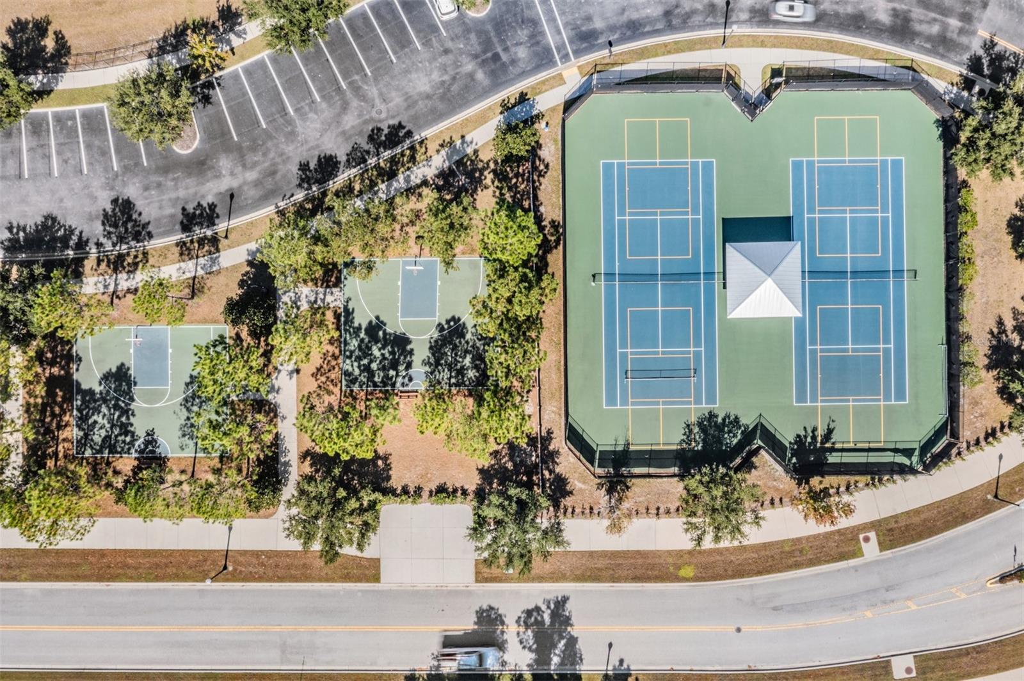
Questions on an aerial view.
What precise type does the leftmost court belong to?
basketball court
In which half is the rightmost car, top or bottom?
top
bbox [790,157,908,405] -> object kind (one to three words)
tennis court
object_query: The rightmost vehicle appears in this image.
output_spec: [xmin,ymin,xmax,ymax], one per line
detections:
[770,0,818,23]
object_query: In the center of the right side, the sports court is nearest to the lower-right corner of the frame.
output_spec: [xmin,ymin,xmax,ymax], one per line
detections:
[817,305,884,446]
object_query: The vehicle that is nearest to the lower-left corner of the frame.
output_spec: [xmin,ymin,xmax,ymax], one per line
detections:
[434,645,498,674]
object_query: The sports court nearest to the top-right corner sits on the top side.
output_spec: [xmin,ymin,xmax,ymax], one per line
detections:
[815,116,881,256]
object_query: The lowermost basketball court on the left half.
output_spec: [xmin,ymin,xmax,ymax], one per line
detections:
[73,324,229,457]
